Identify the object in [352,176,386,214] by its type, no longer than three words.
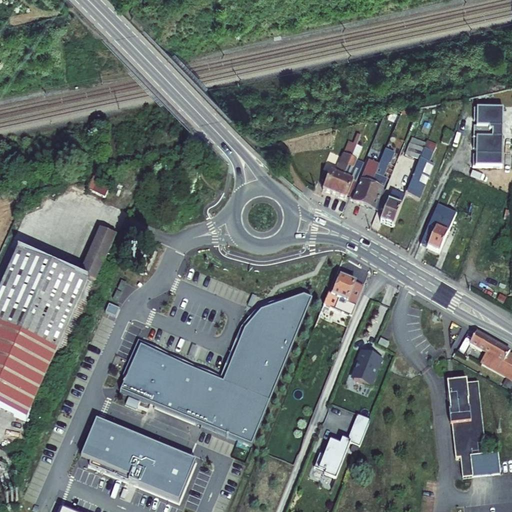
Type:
house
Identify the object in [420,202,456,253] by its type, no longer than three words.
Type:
barn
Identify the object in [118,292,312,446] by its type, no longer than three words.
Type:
building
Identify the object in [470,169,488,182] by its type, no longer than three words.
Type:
vehicle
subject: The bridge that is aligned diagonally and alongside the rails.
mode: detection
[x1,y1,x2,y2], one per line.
[104,10,225,132]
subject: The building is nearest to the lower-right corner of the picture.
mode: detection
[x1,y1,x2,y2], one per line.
[471,452,501,480]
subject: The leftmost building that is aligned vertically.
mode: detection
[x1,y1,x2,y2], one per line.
[0,241,88,422]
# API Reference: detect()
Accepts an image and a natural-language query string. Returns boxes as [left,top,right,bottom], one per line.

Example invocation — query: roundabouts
[226,181,299,254]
